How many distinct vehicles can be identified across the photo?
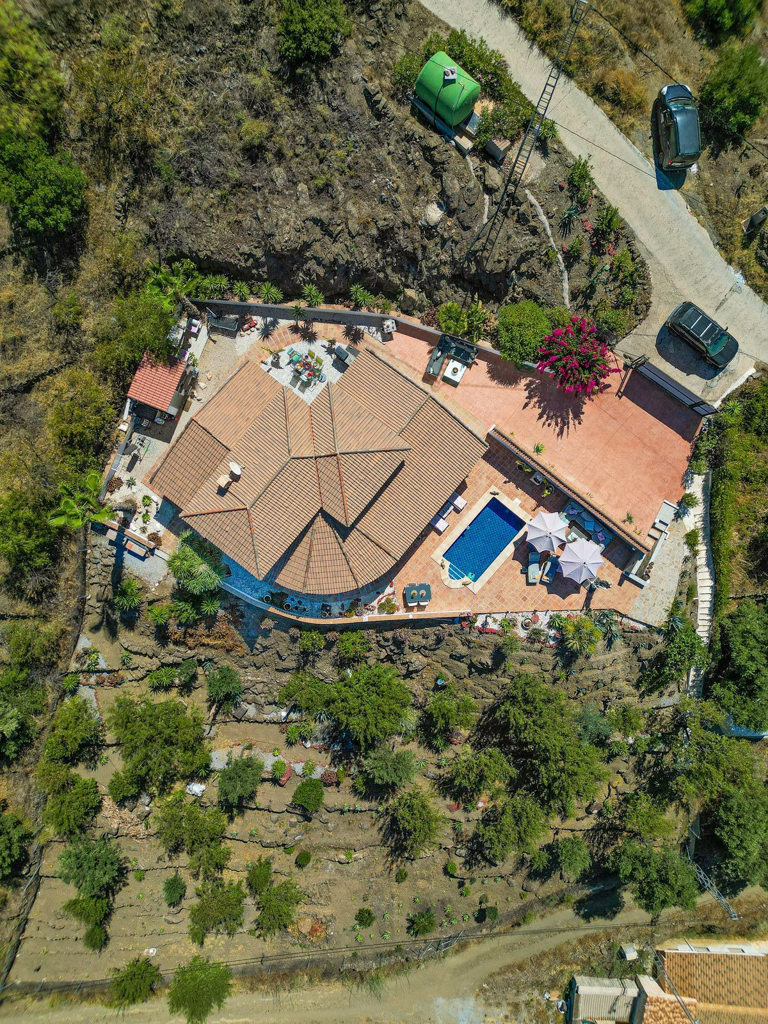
2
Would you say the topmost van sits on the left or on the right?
right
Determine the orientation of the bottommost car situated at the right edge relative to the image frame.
on a diagonal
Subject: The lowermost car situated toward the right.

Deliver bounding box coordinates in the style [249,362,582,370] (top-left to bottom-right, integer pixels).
[661,299,741,369]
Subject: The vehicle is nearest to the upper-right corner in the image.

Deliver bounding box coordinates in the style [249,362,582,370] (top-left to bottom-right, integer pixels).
[659,86,702,165]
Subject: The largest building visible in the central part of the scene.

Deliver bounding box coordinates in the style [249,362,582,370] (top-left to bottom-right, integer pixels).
[149,348,489,594]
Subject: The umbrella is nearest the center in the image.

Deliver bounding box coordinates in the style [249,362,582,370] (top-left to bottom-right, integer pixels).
[527,513,567,553]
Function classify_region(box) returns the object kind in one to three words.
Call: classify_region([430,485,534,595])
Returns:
swimming pool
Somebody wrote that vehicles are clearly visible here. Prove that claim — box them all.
[661,299,741,369]
[659,86,702,165]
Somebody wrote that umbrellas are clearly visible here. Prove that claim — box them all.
[527,513,567,553]
[558,540,603,584]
